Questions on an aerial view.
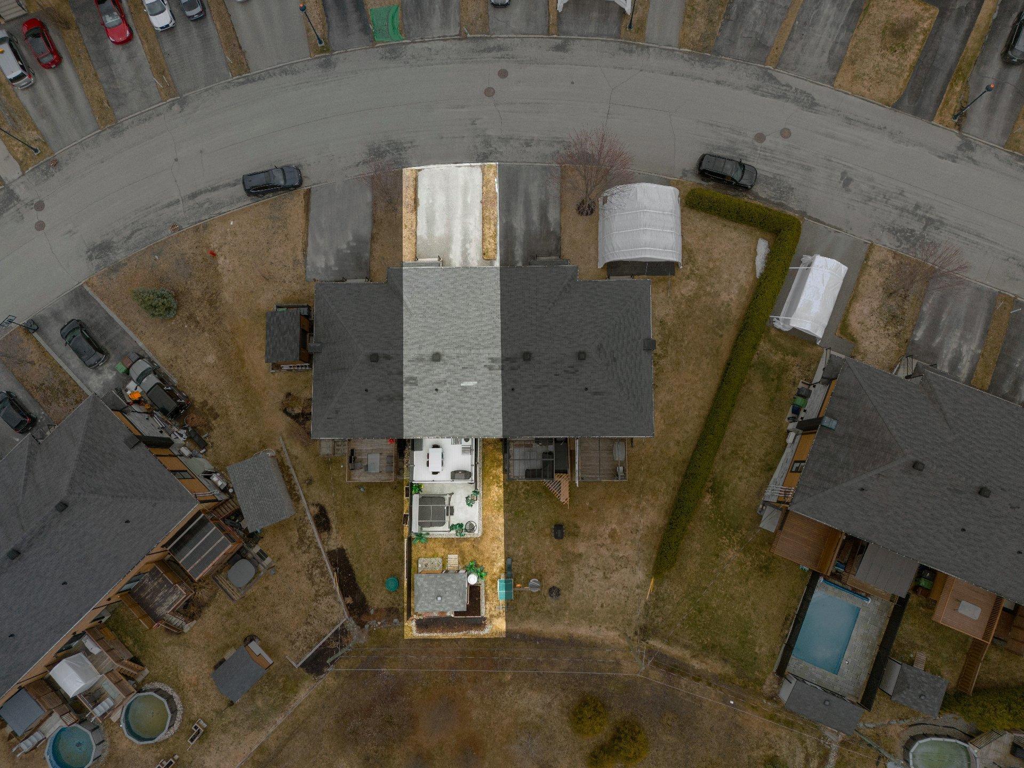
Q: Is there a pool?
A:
Yes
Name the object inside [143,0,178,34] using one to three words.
car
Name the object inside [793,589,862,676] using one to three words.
swimming pool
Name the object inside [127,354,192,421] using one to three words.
truck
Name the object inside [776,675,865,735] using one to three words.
shed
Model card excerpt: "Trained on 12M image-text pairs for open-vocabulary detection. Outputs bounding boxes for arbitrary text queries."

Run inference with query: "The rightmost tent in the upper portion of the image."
[780,256,845,340]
